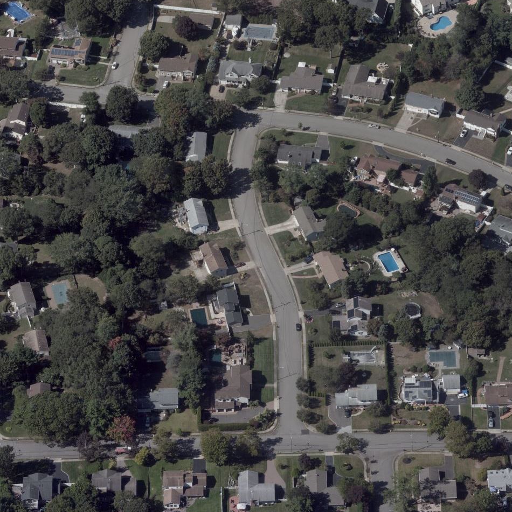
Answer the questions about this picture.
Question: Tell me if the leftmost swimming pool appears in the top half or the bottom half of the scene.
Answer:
top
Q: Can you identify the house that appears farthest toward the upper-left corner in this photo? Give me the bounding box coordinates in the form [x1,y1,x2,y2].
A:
[0,34,29,62]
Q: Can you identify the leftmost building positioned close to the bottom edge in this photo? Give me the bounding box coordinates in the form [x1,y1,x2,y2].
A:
[22,471,55,507]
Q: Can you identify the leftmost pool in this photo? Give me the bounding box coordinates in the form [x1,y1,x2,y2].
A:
[3,1,32,22]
